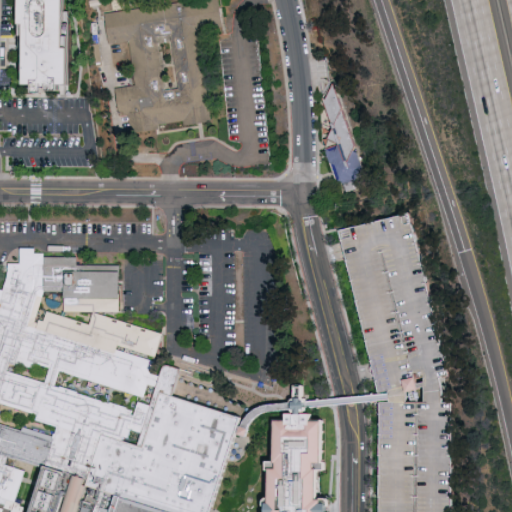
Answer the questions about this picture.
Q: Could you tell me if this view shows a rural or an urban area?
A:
urban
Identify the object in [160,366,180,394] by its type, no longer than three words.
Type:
building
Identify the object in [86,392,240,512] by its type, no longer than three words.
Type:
building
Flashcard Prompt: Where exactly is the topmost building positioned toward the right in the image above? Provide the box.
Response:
[324,84,342,127]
